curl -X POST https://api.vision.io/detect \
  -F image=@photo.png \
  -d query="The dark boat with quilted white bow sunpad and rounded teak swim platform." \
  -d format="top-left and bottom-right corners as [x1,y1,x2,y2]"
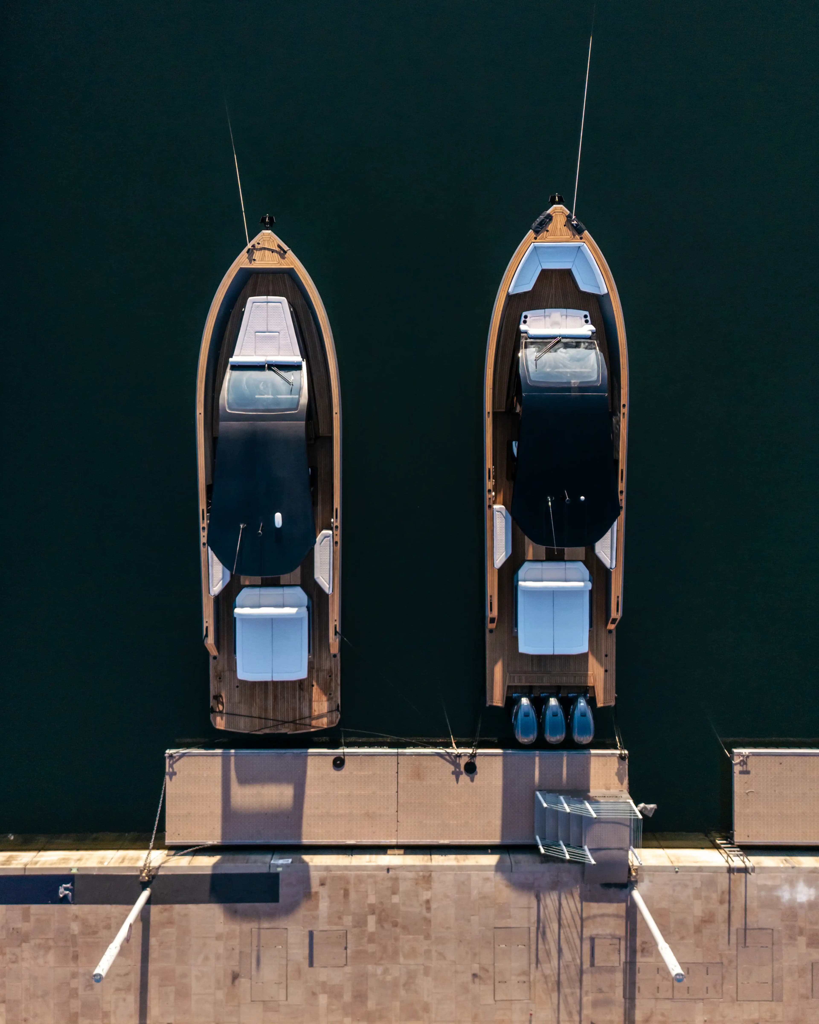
[197,217,342,733]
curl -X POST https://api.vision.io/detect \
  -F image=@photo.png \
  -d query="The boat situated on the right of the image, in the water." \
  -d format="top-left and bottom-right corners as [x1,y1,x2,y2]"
[482,190,627,744]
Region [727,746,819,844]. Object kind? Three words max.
pier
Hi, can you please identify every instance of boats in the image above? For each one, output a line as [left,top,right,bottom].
[482,190,627,744]
[197,217,342,733]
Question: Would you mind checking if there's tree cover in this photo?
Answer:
No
